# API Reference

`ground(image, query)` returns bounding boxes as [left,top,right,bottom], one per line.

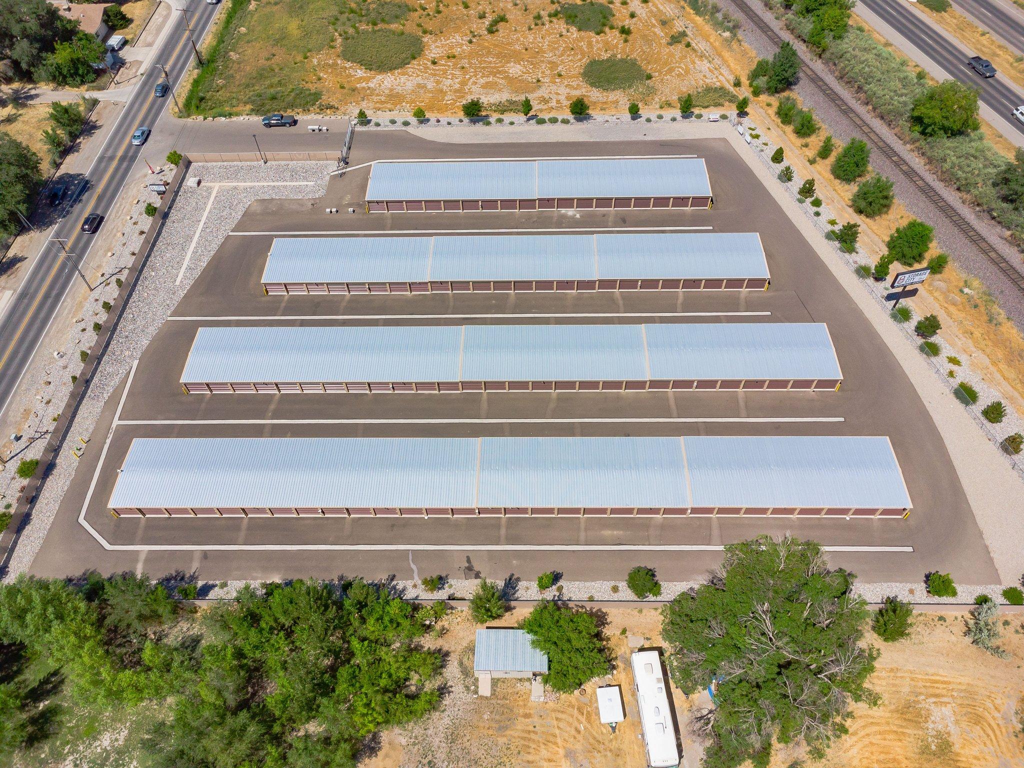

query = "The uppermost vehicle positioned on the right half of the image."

[969,57,998,76]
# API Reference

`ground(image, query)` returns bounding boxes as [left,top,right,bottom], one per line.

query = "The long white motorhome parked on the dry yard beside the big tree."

[631,652,678,768]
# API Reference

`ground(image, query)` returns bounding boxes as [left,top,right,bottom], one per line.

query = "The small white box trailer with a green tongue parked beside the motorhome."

[597,686,623,741]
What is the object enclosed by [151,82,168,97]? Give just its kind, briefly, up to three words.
car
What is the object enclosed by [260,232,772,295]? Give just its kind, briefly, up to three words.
building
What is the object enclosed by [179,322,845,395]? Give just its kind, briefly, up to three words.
building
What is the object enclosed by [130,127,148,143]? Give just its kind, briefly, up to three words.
car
